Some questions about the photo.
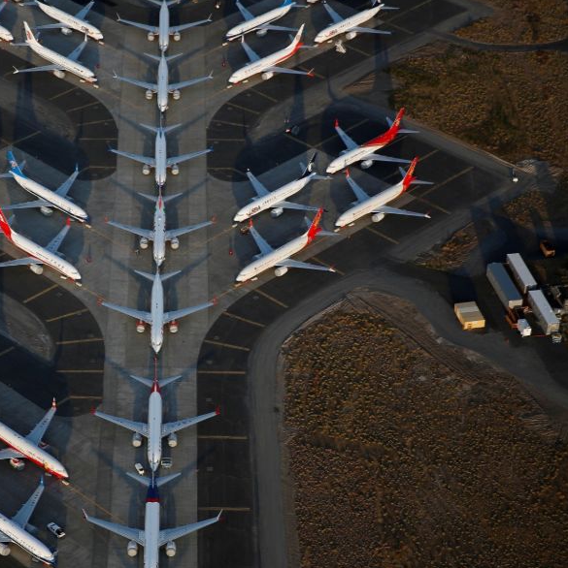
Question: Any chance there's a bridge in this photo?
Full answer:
No, there's no bridge here.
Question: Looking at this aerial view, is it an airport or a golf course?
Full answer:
The picture captures an airport.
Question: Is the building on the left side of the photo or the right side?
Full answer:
It is on the right.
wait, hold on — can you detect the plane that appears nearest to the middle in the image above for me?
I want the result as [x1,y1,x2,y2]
[237,208,338,284]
